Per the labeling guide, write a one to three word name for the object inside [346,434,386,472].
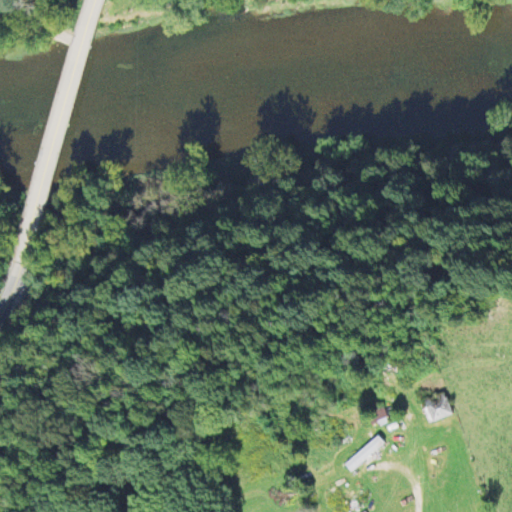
shed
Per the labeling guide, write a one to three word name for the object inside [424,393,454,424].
house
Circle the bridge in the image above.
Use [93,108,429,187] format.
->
[33,32,94,187]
